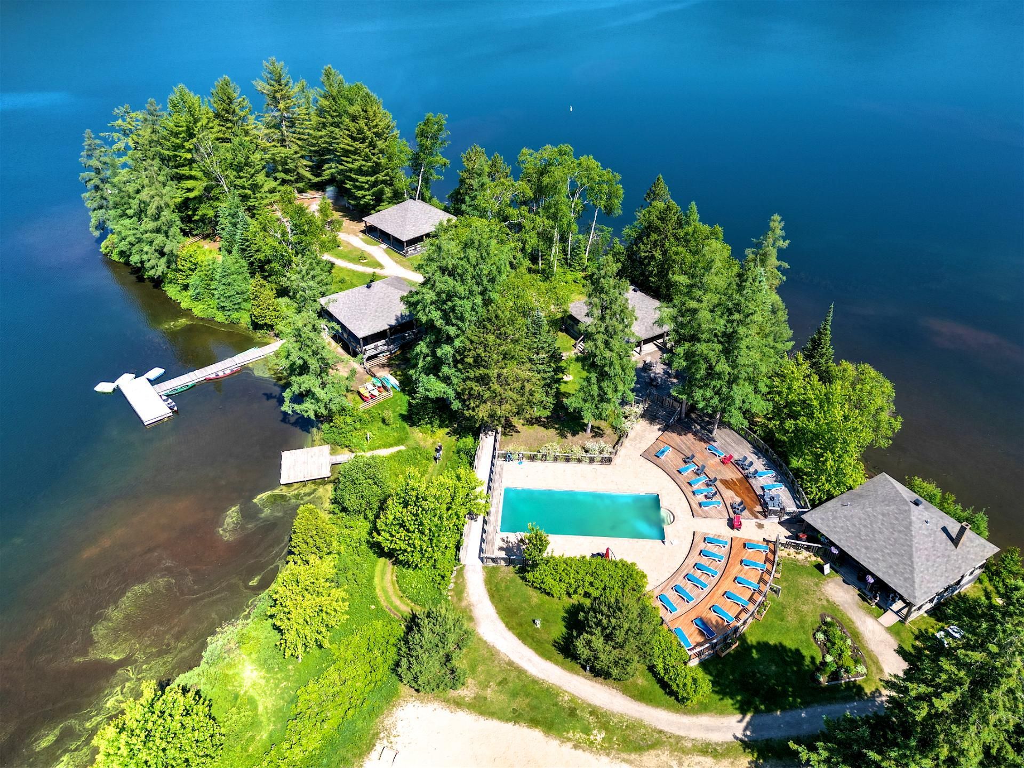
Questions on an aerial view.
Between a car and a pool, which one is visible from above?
pool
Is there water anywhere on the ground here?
Yes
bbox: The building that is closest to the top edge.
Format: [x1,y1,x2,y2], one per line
[362,199,451,258]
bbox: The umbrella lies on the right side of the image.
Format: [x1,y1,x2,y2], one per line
[605,541,626,565]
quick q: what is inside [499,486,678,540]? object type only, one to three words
swimming pool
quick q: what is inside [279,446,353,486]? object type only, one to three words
pier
